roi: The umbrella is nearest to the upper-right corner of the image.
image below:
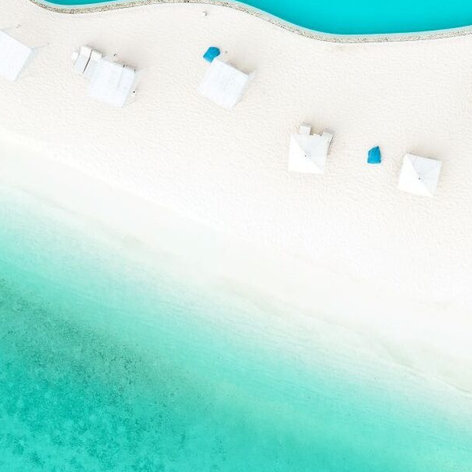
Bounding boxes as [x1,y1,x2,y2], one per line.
[397,153,442,198]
